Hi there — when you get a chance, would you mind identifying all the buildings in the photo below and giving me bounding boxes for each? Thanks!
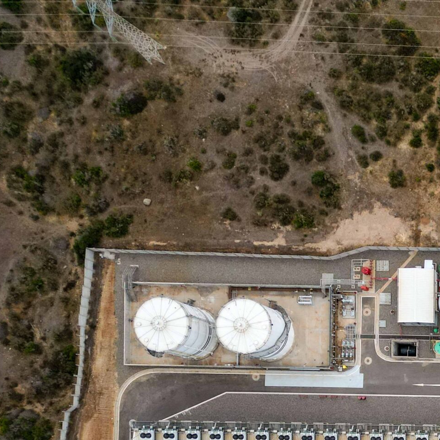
[399,267,437,326]
[129,419,440,440]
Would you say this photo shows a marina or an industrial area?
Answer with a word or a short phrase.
industrial area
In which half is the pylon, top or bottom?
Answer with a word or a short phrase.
top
